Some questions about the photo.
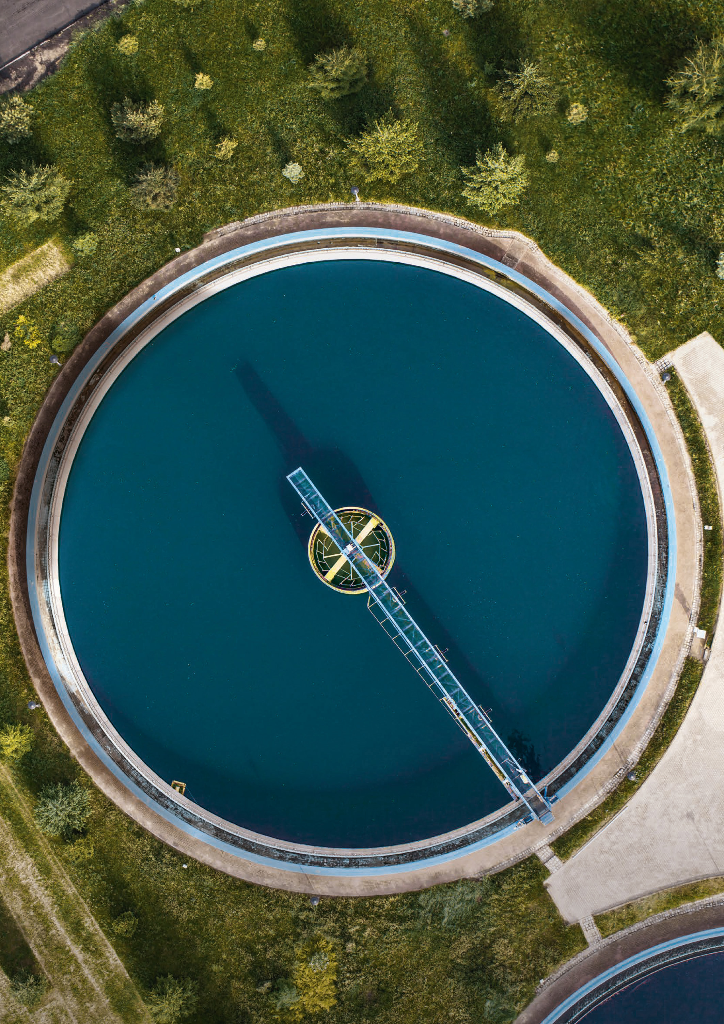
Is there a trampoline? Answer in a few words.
No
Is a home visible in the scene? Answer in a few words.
No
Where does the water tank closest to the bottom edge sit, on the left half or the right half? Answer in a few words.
right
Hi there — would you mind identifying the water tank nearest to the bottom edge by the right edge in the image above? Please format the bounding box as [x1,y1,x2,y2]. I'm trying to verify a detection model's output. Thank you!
[535,924,724,1024]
